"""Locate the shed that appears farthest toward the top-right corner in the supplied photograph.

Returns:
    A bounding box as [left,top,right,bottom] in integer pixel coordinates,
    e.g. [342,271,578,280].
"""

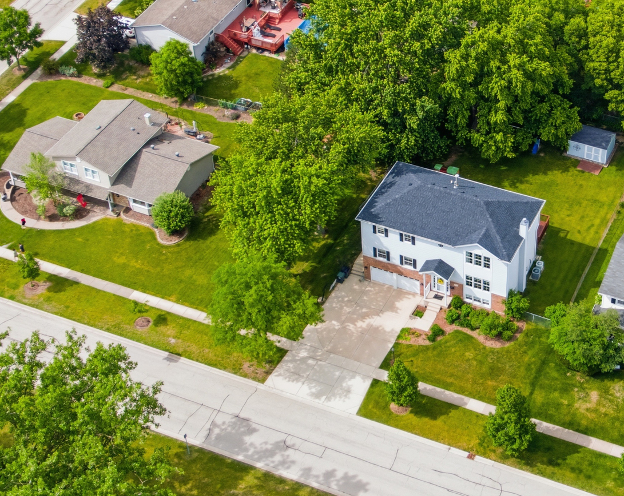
[562,123,619,175]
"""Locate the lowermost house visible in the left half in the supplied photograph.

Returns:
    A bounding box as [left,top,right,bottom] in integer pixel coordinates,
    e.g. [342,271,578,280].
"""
[0,97,221,221]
